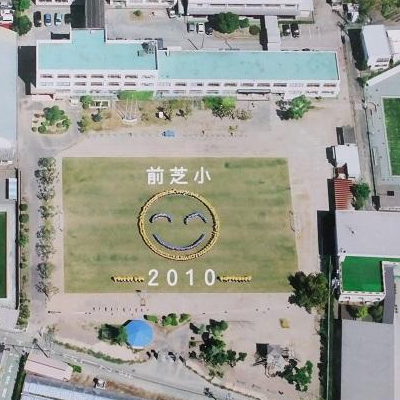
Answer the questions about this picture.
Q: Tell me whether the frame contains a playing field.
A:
Yes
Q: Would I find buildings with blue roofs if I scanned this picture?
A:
Yes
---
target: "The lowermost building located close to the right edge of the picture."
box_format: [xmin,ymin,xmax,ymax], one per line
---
[341,322,395,400]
